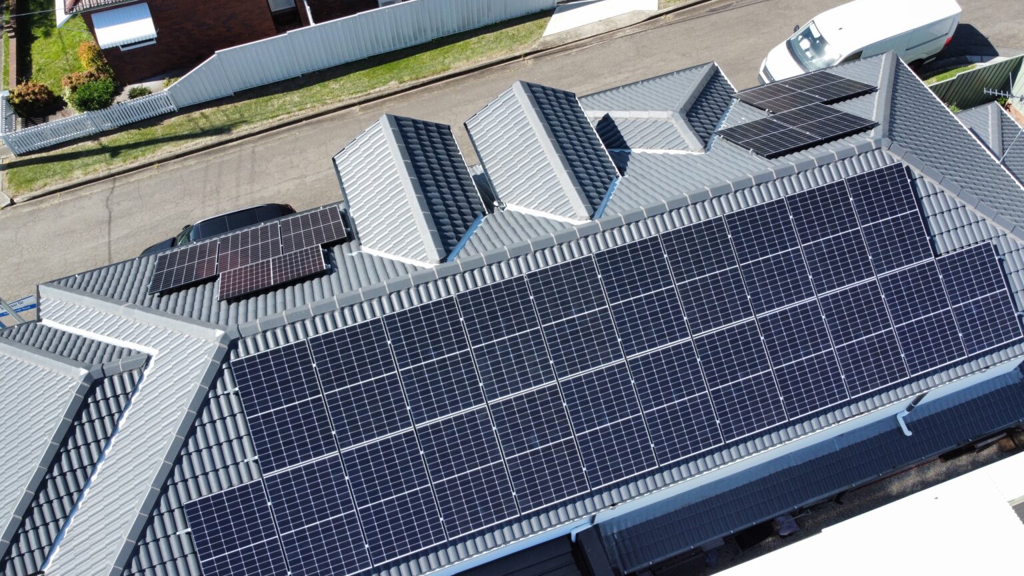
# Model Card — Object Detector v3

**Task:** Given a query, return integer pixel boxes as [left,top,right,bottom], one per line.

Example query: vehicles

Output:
[120,200,300,254]
[753,0,960,84]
